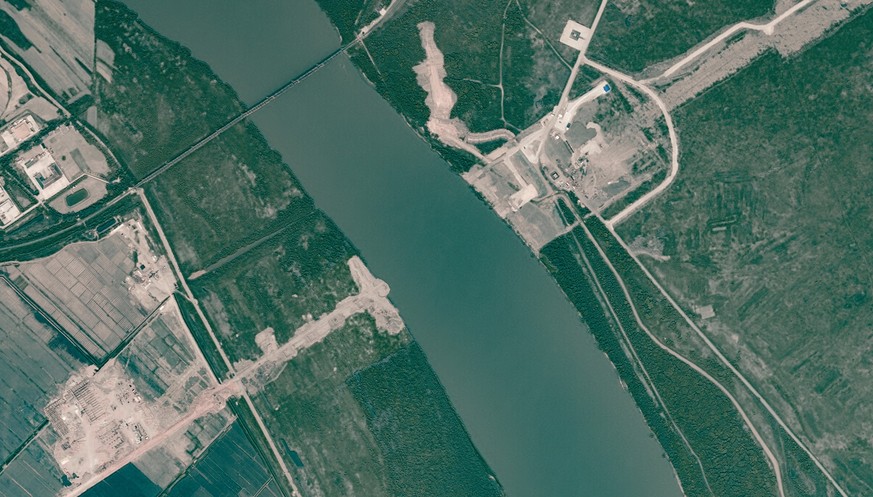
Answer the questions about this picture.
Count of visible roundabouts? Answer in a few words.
0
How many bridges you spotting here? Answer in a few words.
1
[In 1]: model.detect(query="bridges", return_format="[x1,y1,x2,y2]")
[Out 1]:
[132,35,361,191]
